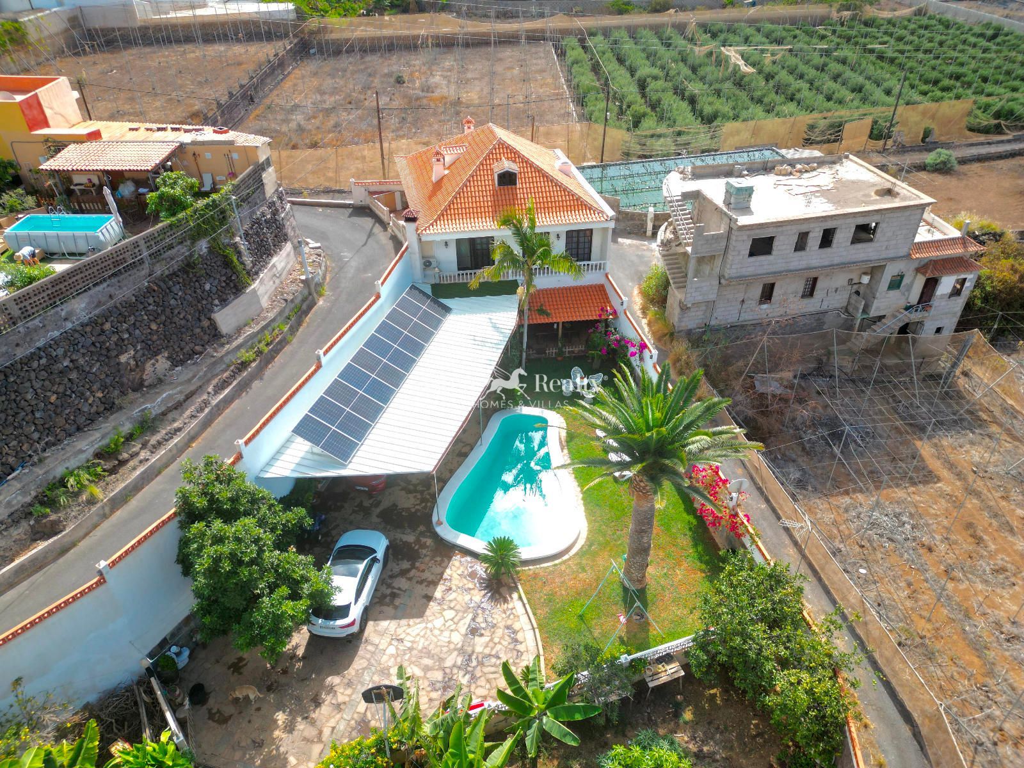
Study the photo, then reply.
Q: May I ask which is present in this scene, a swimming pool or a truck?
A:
swimming pool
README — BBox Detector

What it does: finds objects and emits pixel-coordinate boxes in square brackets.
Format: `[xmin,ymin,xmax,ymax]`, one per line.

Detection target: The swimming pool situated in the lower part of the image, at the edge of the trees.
[432,407,586,565]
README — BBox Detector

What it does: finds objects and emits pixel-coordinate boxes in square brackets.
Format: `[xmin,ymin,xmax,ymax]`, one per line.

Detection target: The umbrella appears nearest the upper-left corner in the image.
[103,186,125,232]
